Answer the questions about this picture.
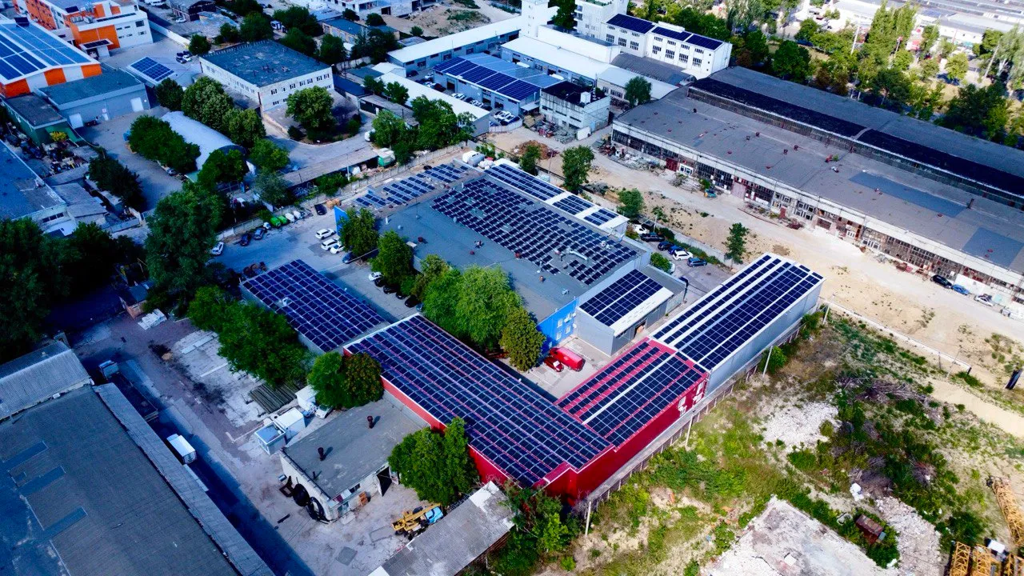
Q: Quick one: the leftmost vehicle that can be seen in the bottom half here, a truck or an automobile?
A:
truck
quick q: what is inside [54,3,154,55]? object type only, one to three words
building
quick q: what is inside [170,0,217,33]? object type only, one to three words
shed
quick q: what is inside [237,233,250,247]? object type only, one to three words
vehicle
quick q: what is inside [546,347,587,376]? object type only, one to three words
van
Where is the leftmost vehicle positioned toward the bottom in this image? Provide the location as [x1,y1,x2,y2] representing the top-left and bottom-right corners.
[102,356,162,424]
